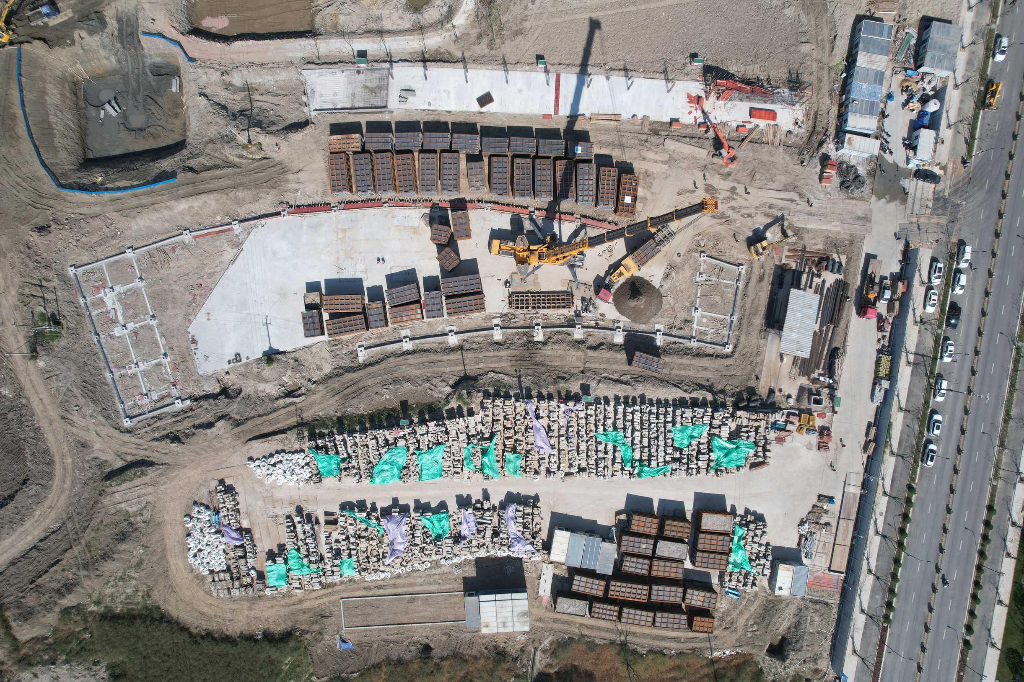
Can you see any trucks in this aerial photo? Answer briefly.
Yes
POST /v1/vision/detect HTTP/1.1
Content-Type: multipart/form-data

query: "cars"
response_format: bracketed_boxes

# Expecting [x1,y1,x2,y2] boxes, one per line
[928,413,943,438]
[941,339,955,364]
[924,289,938,314]
[993,36,1008,62]
[922,443,937,467]
[930,260,944,285]
[946,303,961,328]
[915,170,940,183]
[953,272,967,296]
[957,244,972,269]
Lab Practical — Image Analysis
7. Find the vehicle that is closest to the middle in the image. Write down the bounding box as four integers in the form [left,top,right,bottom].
[595,226,676,304]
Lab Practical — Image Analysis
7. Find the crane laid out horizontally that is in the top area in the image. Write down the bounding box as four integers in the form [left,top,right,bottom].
[490,196,719,291]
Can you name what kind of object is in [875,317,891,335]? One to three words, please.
work vehicle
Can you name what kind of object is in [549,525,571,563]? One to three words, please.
building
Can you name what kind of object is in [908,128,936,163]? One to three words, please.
building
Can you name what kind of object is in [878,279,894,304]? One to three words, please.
vehicle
